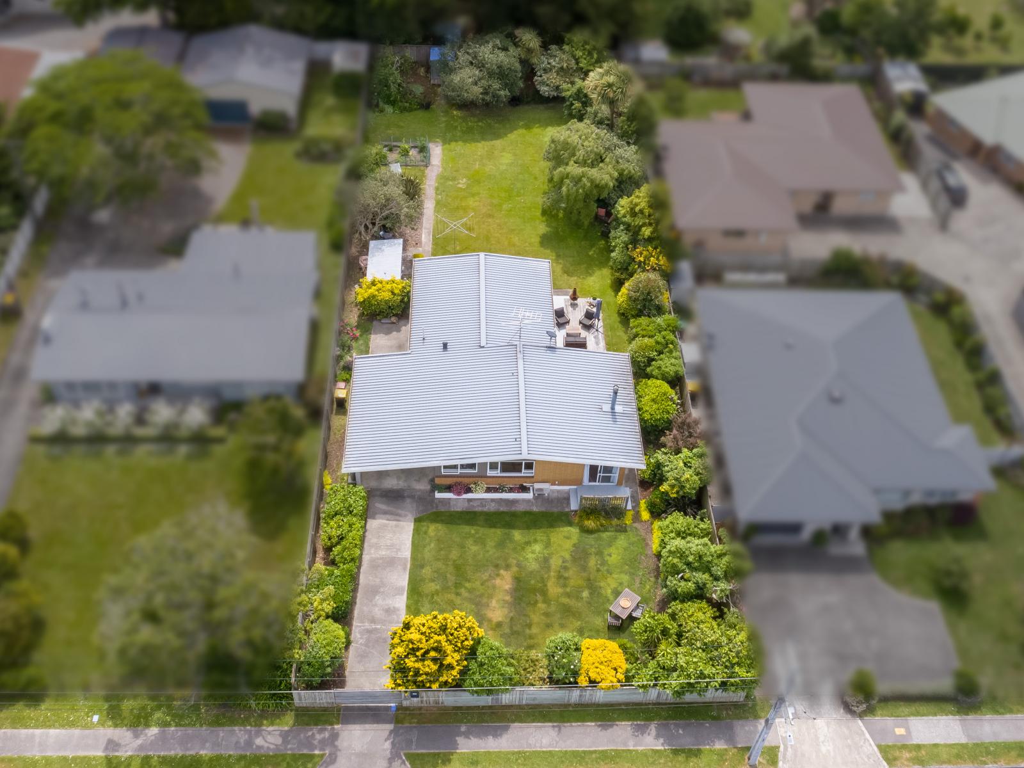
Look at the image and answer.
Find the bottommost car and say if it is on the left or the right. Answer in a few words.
right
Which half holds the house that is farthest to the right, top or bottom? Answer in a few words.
top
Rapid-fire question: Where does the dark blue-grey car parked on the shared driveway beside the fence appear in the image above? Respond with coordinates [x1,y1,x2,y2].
[924,159,974,201]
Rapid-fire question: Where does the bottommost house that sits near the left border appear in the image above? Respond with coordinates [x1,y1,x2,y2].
[26,215,321,420]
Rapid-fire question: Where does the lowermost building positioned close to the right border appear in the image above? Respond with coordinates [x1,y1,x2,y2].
[693,288,1001,555]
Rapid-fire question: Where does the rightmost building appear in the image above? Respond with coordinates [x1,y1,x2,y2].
[927,64,1024,191]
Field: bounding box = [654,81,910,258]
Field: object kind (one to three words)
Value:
house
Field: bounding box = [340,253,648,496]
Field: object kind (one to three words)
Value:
house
